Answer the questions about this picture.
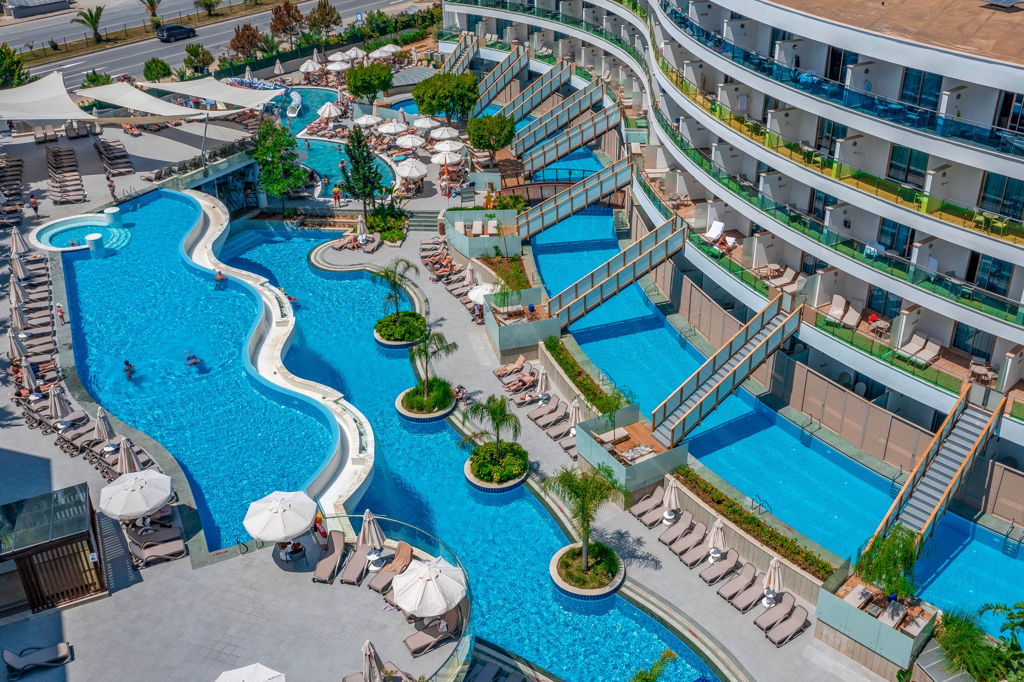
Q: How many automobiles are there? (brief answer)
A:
one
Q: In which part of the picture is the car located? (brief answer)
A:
top left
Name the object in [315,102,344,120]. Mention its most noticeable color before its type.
white umbrella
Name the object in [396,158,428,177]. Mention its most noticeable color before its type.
white umbrella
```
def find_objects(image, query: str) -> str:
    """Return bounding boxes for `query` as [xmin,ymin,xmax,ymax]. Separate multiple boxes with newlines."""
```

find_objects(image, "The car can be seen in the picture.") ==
[151,20,202,43]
